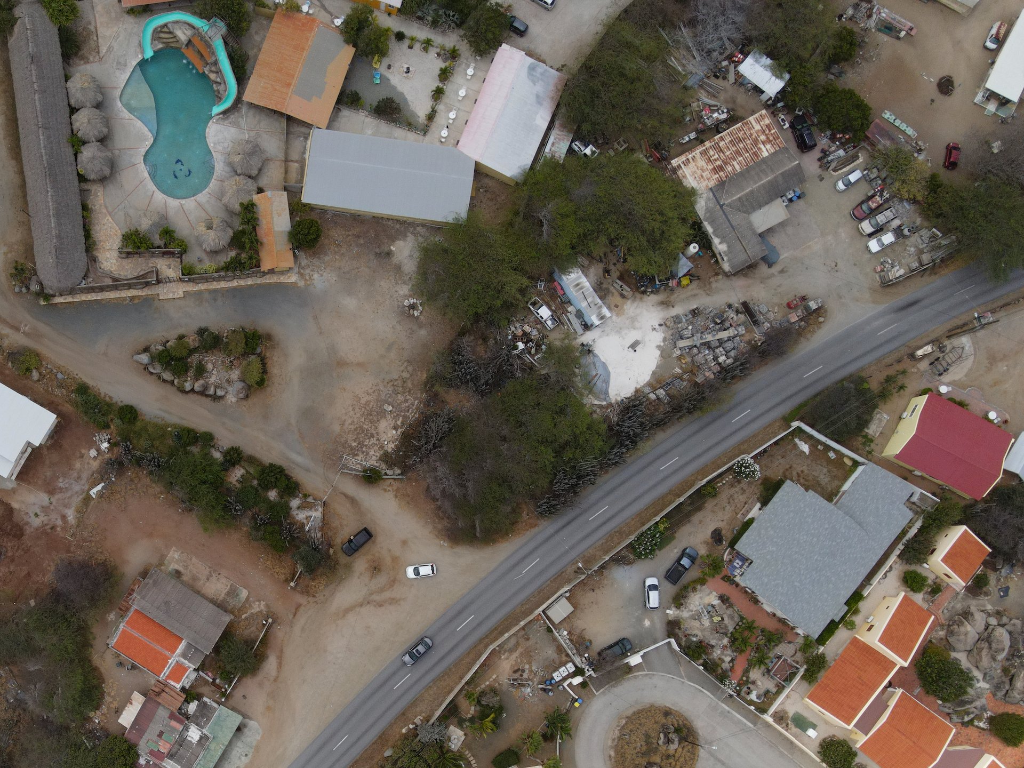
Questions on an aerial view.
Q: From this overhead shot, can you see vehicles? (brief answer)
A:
Yes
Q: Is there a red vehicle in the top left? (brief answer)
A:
No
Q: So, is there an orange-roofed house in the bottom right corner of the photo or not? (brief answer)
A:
Yes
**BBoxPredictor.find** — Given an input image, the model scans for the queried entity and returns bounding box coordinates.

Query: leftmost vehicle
[339,525,376,555]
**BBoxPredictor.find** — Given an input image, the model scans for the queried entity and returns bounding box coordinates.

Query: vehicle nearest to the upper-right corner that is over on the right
[982,18,1009,52]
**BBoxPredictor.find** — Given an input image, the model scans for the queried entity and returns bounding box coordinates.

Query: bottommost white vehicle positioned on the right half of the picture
[642,575,660,610]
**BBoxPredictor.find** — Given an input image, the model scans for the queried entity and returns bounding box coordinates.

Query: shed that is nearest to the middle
[553,268,611,330]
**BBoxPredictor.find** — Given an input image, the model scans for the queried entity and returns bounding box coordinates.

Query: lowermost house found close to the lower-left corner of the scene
[118,680,246,768]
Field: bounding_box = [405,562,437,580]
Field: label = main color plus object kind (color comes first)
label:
white car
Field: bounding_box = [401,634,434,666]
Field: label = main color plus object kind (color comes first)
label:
gray car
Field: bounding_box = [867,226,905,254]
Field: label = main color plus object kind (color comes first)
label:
white truck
